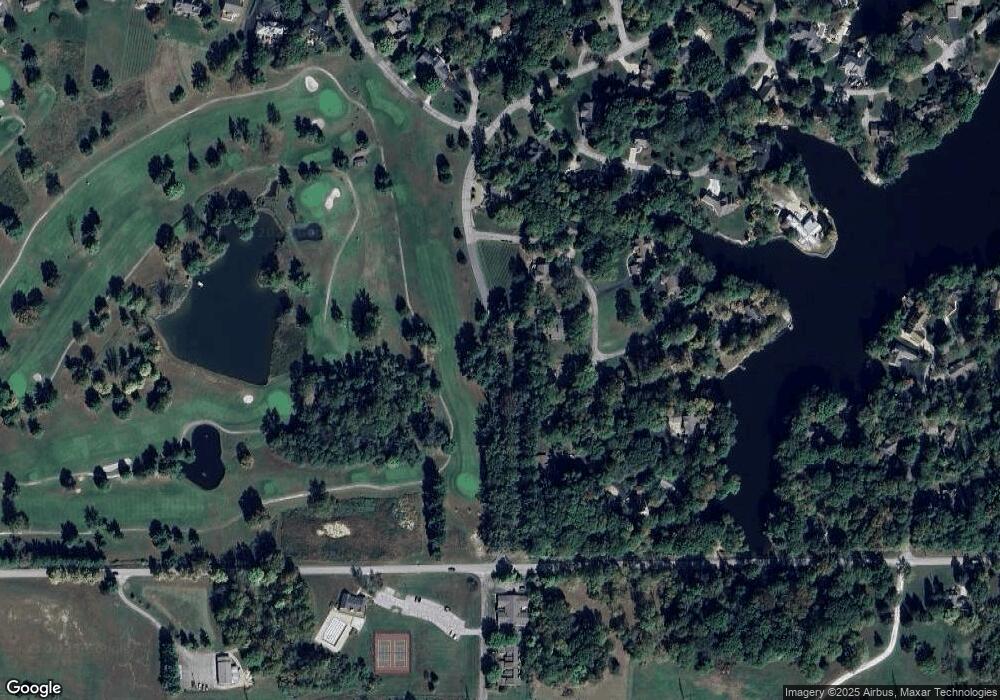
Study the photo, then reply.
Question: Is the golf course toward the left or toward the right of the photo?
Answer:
left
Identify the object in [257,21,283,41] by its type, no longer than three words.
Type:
house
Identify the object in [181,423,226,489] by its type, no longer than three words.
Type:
pond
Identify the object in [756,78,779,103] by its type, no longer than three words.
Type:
house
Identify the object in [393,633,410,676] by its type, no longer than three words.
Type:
tennis court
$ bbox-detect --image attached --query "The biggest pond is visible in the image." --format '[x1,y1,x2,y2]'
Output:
[156,210,281,386]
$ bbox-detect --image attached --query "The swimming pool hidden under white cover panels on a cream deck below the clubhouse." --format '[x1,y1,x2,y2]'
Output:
[314,607,365,651]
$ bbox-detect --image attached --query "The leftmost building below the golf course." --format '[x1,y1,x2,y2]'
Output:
[217,649,239,683]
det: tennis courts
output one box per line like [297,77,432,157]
[375,633,393,676]
[393,633,410,676]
